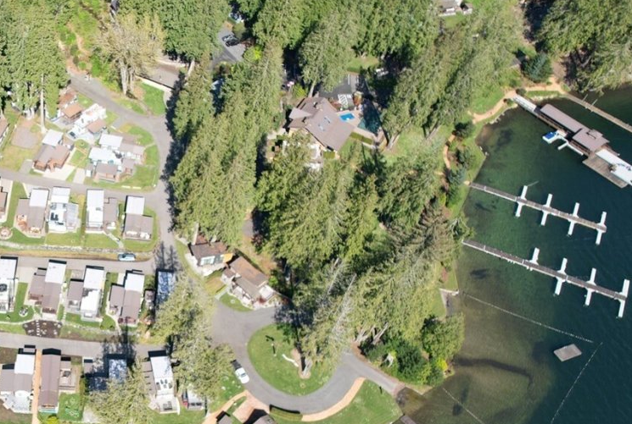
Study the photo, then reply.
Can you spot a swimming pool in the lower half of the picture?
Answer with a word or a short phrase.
No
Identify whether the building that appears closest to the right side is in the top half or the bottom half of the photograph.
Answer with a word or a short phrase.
top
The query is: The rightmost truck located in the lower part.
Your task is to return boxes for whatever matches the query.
[230,359,252,383]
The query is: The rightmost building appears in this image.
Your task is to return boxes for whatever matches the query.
[571,127,610,159]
